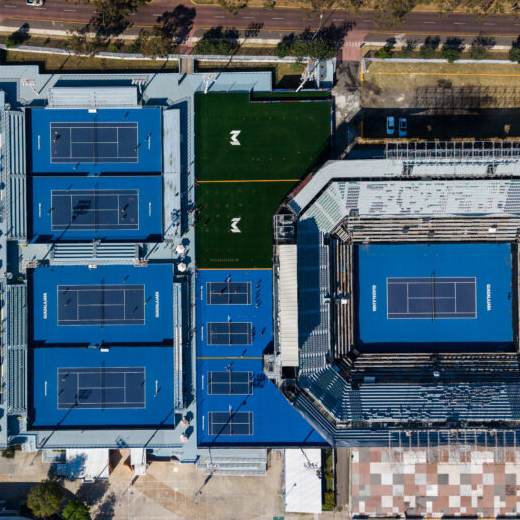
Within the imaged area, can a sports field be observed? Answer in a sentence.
Yes, I can see a sports field in this picture.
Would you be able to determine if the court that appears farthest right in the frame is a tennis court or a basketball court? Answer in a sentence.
What you see as the court that appears farthest right is a tennis court.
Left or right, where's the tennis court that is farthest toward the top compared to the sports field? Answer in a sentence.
In the image, the tennis court that is farthest toward the top sits on the left side of the sports field.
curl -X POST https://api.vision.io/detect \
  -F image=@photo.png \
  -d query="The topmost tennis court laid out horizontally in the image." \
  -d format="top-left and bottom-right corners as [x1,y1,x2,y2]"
[28,109,163,175]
